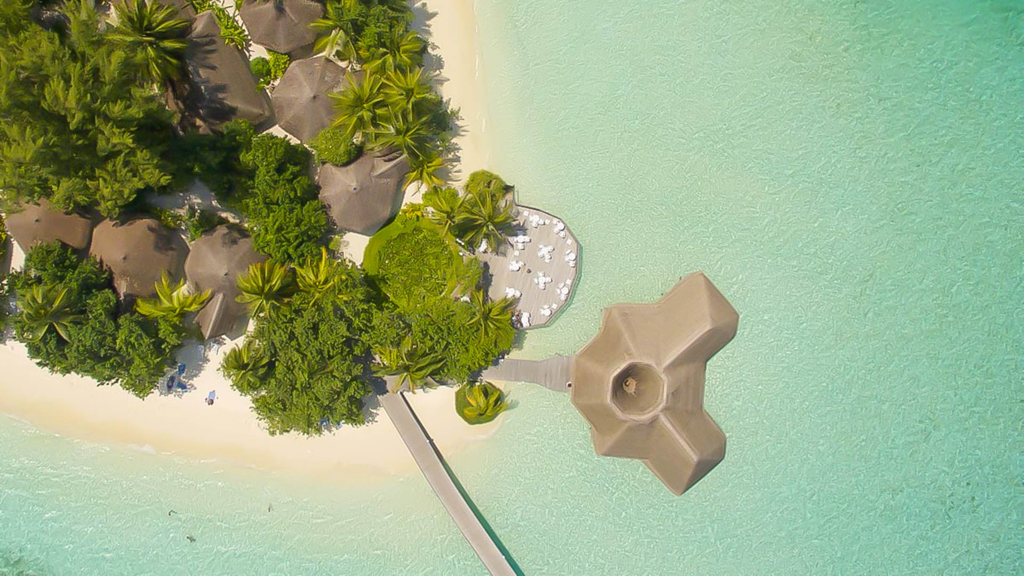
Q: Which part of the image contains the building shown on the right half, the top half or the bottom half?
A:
bottom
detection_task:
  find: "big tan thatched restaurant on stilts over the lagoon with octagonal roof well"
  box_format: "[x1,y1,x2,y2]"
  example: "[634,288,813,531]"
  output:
[571,270,739,496]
